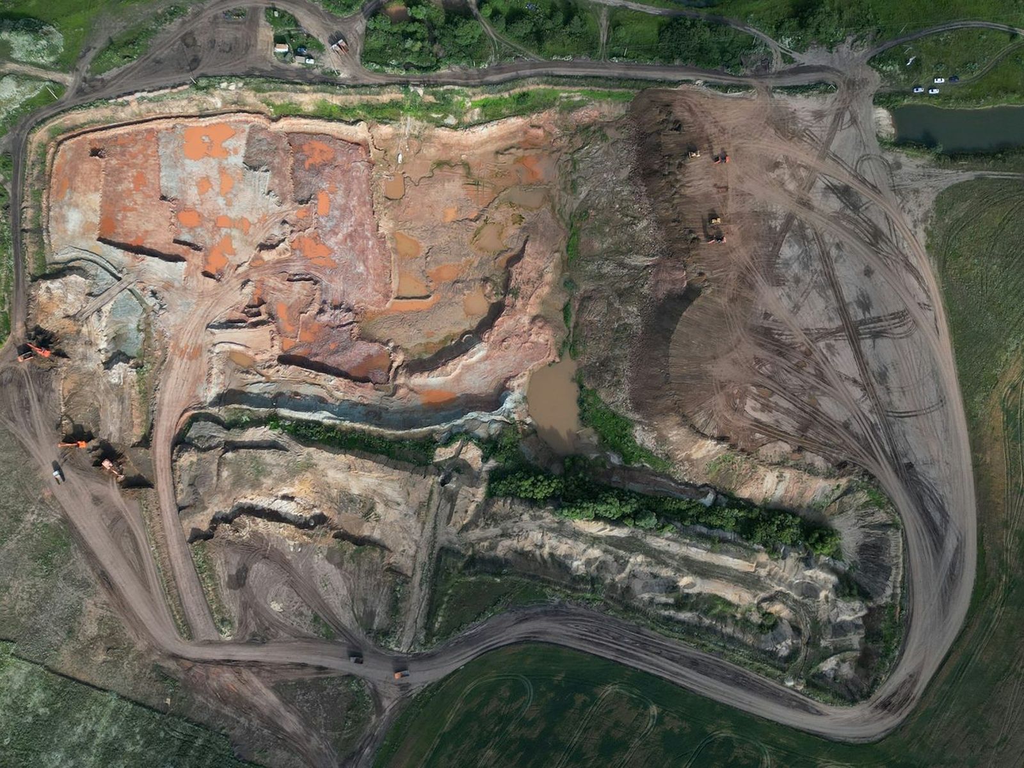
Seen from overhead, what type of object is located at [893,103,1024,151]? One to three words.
pond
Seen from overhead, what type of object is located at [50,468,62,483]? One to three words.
vehicle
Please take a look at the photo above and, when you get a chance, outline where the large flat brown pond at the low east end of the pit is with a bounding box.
[528,364,581,456]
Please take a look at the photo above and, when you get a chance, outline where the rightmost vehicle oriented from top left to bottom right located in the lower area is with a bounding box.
[98,460,118,477]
